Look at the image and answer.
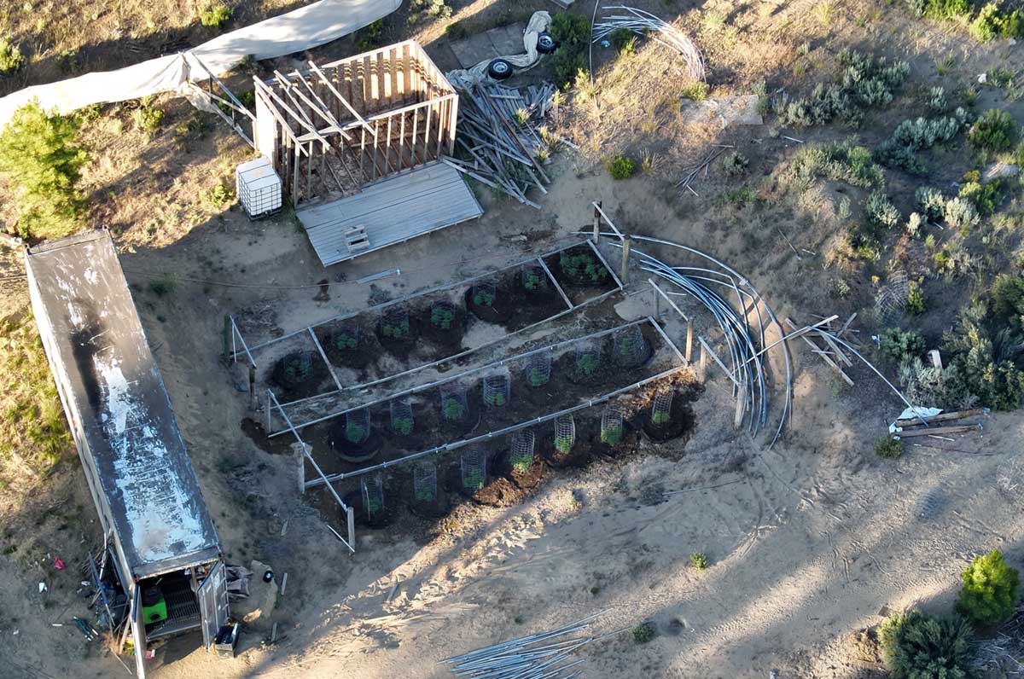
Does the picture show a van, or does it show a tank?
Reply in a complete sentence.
Looking from above, you can make out a tank.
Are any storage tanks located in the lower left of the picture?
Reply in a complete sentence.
No, in the lower left of the picture there is no storage tank.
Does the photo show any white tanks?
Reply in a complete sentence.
Yes, the frame does contain a white tank.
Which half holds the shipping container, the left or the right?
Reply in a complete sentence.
The shipping container appears in the left half of the scene.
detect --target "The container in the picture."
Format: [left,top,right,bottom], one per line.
[24,226,229,679]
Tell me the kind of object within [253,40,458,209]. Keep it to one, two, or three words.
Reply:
shed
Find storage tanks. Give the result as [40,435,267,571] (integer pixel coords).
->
[235,158,283,221]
